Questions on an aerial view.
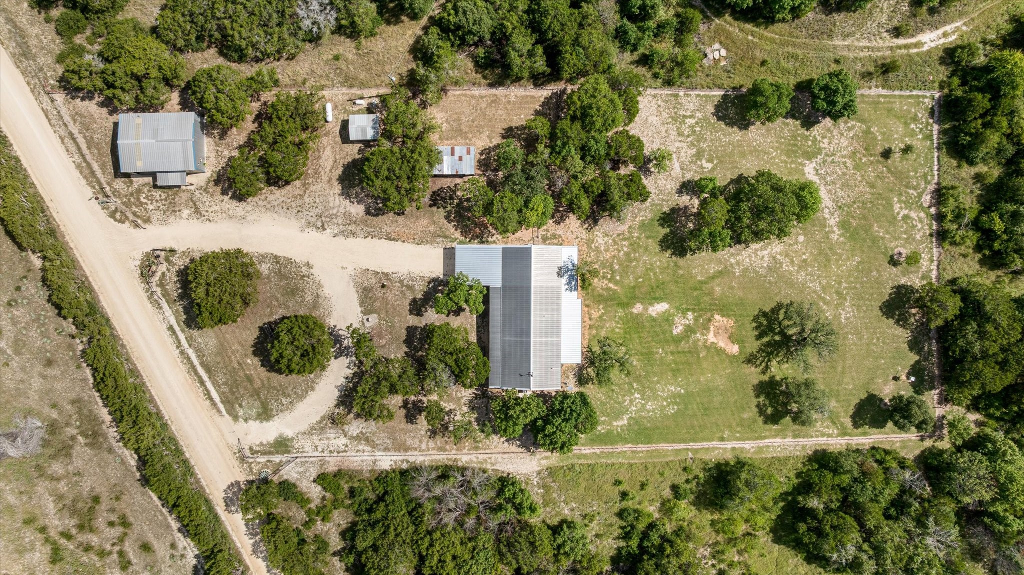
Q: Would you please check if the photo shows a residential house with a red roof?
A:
No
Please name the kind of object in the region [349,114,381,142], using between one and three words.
shed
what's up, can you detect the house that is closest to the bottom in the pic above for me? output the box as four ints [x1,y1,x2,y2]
[455,242,582,393]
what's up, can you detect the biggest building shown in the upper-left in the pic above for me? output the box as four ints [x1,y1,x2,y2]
[117,112,205,187]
